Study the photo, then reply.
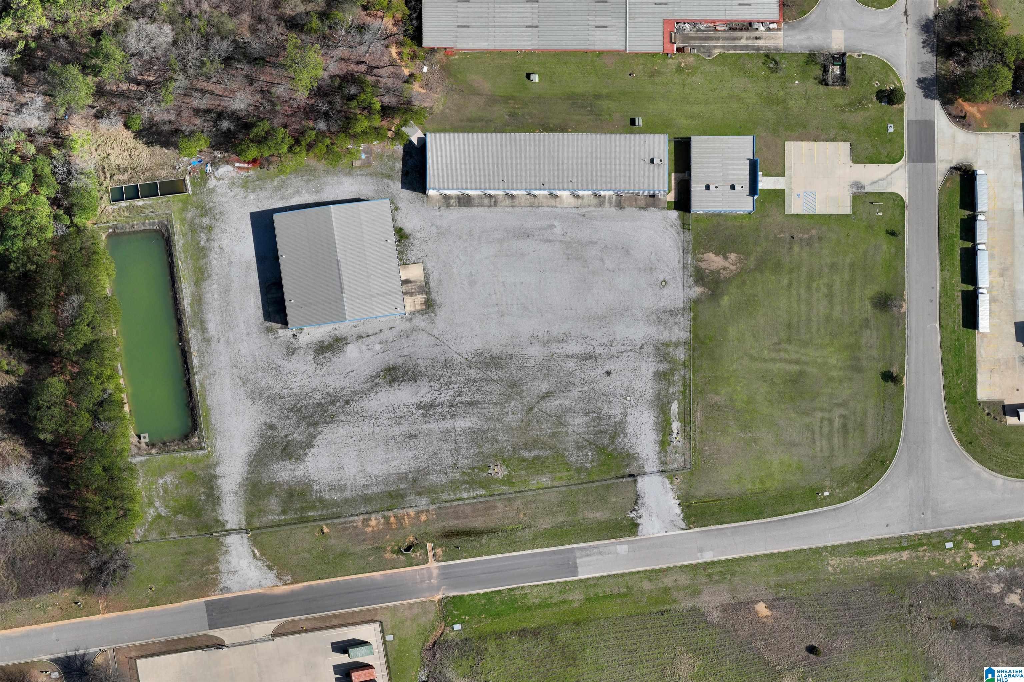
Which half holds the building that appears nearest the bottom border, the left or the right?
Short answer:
left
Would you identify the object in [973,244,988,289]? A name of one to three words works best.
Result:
vehicle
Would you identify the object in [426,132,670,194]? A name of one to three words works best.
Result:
building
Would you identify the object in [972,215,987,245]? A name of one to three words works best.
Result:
vehicle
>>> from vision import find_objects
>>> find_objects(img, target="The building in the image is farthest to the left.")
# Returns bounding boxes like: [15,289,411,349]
[273,199,407,329]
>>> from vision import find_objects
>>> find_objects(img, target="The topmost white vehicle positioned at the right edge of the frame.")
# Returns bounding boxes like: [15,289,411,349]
[972,171,987,212]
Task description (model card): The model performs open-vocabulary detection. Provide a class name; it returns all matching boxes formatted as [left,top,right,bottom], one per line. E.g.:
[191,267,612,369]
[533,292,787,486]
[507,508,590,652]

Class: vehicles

[972,171,987,212]
[973,288,989,332]
[973,244,988,289]
[972,215,987,245]
[1013,408,1024,421]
